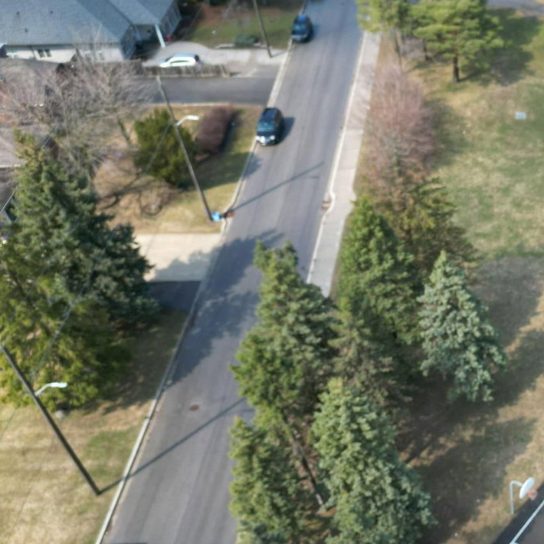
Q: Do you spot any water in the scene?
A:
No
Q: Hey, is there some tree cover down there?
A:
Yes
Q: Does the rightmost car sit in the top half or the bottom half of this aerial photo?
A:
top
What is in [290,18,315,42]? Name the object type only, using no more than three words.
car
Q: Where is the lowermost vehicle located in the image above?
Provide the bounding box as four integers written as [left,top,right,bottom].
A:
[256,113,286,145]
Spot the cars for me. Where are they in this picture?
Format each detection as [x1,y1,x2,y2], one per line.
[158,54,198,72]
[290,18,315,42]
[256,113,286,145]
